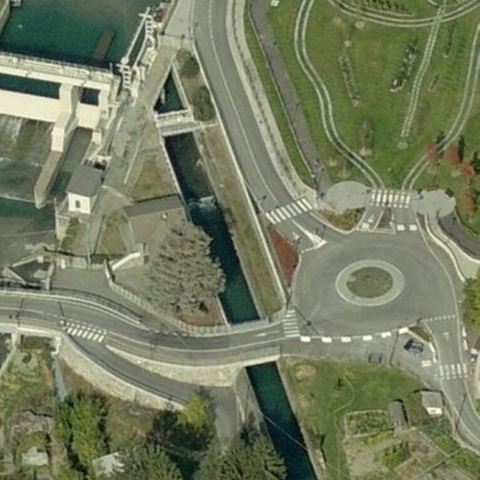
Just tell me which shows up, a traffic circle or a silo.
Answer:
traffic circle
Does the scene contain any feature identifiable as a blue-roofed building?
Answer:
No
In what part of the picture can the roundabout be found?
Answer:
right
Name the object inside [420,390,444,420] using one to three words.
shed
